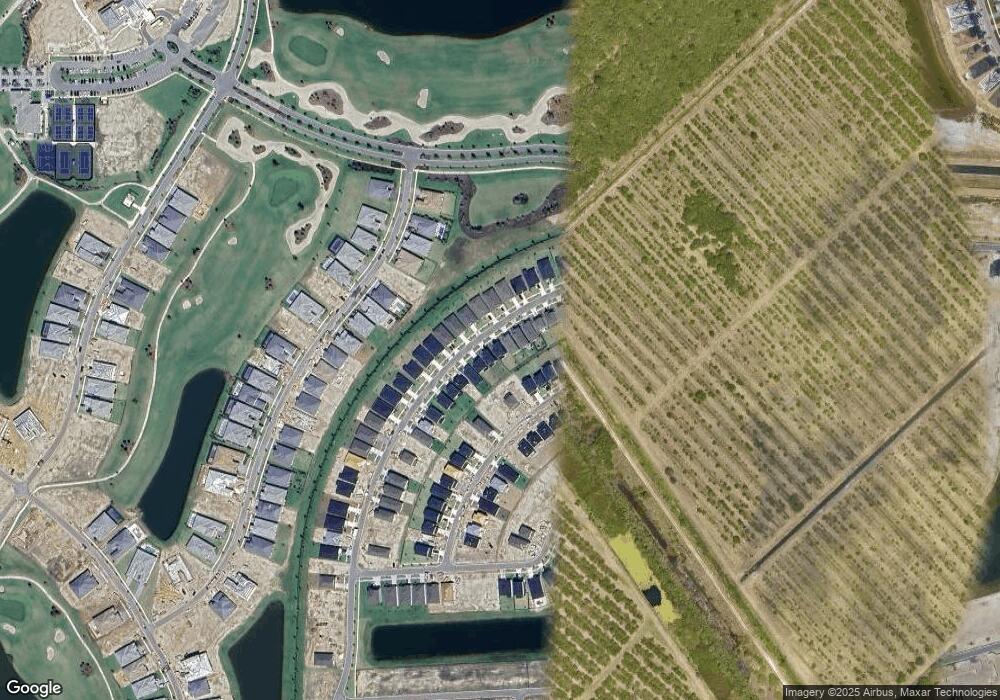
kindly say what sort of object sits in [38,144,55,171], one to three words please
basketball court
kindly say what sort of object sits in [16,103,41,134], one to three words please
building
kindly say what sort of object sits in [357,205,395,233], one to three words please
house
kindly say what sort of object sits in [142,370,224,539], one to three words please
pond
